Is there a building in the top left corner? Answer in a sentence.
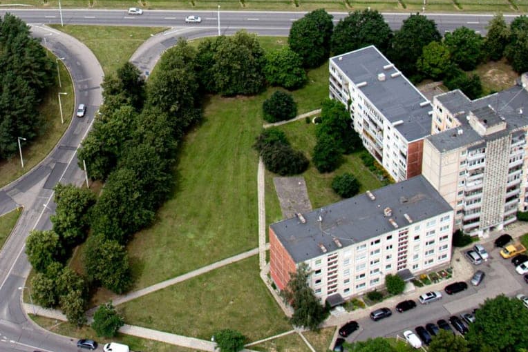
No, in the top left corner there is no building.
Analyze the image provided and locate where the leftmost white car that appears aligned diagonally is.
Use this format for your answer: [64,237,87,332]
[404,326,420,349]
